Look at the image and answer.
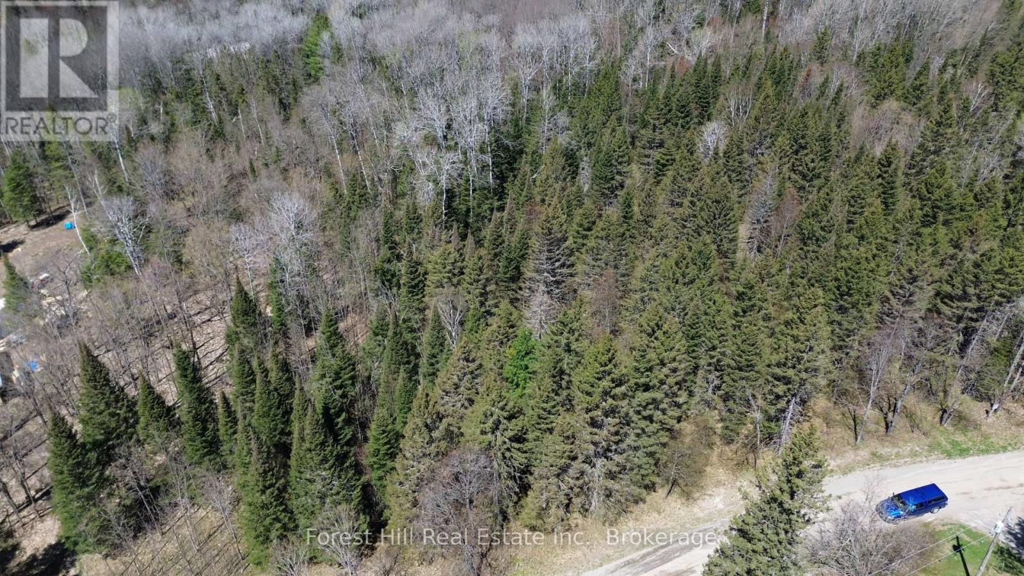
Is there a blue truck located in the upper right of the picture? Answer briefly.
No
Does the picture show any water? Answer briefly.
No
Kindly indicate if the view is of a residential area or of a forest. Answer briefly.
forest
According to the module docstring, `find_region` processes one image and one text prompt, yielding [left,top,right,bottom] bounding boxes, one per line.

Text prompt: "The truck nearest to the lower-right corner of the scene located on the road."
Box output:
[877,482,949,523]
